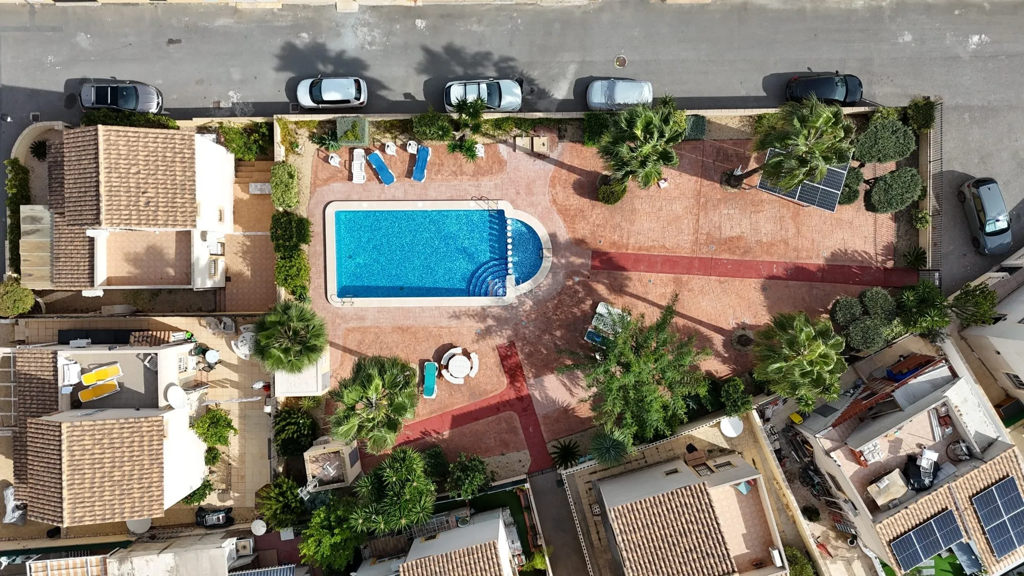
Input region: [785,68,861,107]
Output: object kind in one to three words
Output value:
car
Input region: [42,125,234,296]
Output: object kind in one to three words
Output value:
house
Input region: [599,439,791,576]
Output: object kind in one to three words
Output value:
house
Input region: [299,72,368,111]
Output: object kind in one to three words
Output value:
car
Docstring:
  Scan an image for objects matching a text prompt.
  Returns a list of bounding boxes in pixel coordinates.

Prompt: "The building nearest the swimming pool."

[274,347,336,397]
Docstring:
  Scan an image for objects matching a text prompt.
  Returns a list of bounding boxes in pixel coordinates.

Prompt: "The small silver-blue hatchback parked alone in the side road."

[956,181,1009,251]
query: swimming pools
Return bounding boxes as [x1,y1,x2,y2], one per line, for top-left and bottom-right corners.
[325,201,552,306]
